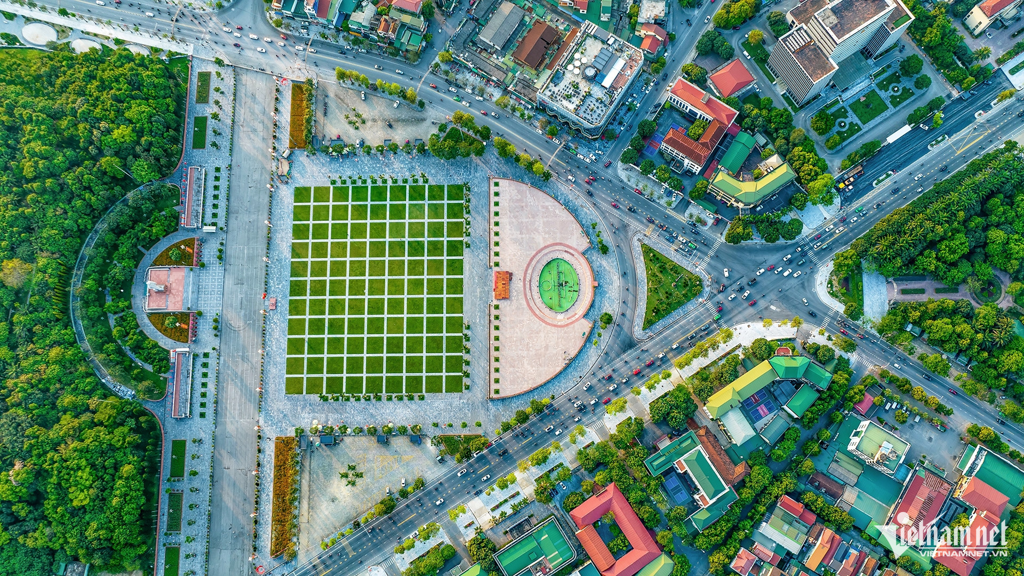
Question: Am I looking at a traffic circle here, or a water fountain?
water fountain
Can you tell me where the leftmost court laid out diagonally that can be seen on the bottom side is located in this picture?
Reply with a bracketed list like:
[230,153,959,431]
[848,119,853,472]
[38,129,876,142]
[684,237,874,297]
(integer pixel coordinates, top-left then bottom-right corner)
[663,472,692,505]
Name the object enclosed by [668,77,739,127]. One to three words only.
building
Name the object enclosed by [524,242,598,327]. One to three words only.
fountain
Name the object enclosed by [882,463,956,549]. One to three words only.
building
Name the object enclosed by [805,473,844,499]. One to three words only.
house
